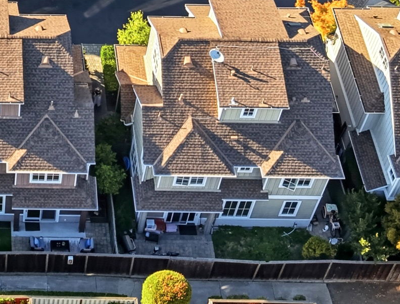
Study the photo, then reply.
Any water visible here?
No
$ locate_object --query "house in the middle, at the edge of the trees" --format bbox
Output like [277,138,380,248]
[117,1,343,241]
